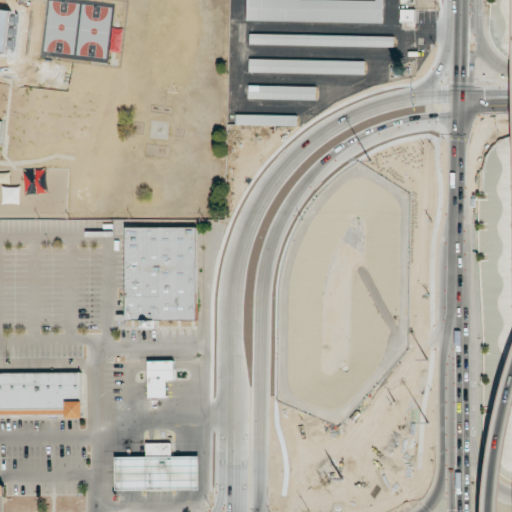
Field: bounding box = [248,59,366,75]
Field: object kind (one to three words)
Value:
building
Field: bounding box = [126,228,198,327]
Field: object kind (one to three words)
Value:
building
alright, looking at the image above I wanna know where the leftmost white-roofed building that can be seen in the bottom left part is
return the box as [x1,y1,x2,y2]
[0,374,84,418]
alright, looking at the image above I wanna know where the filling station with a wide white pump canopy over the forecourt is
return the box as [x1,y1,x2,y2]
[114,456,198,491]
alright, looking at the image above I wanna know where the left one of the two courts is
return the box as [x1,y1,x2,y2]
[44,1,80,55]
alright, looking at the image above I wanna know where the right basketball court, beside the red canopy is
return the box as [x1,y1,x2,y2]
[77,4,112,59]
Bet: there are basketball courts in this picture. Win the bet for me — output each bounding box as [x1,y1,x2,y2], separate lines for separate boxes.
[44,1,80,55]
[77,4,112,59]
